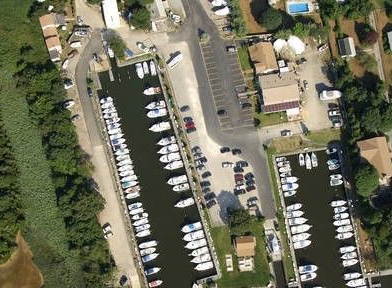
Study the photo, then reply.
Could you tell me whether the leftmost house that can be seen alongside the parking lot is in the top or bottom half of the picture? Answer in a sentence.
The leftmost house that can be seen alongside the parking lot is in the top half of the image.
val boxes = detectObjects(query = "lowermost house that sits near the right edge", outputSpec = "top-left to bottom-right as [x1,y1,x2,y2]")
[358,137,392,178]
